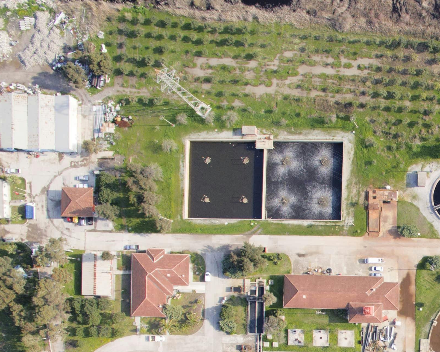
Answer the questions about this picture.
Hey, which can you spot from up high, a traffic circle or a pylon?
pylon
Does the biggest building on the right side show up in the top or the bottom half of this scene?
bottom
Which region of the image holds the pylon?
top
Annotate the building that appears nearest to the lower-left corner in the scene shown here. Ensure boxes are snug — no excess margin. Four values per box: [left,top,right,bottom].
[81,252,117,300]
